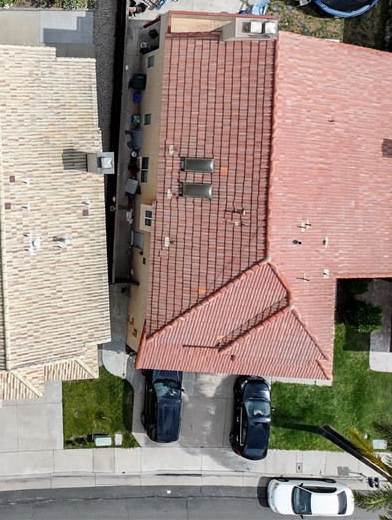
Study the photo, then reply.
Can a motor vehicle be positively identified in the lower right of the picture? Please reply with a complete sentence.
Yes, a motor vehicle can be seen in the lower right of the picture.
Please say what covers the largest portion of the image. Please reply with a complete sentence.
What you mostly see from above here is buildings.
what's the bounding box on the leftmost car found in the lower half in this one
[145,370,189,441]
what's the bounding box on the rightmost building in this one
[126,10,392,381]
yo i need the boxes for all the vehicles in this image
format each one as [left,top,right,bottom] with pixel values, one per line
[145,370,189,441]
[229,375,276,460]
[264,475,355,520]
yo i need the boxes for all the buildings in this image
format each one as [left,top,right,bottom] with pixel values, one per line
[0,43,116,410]
[126,10,392,381]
